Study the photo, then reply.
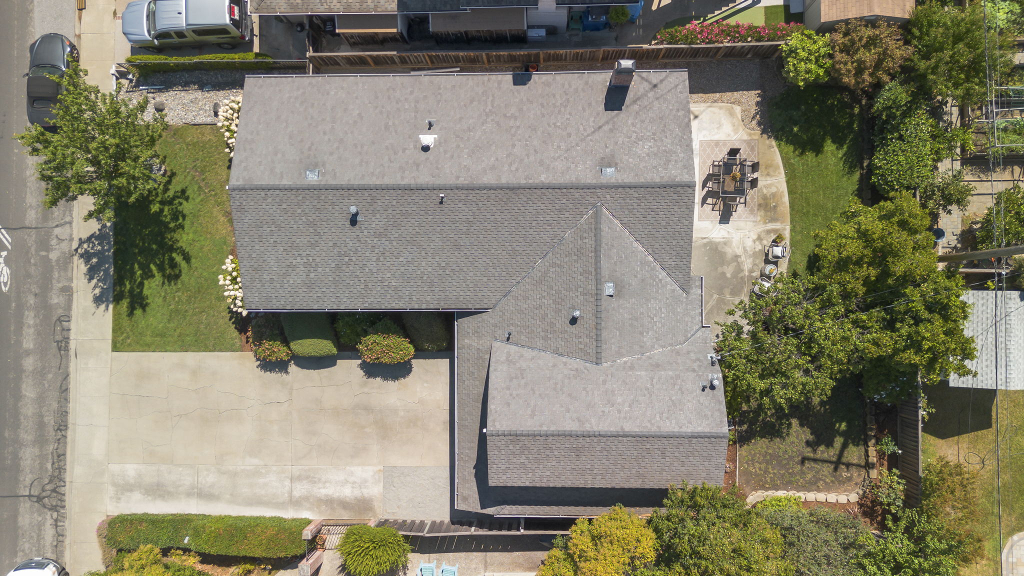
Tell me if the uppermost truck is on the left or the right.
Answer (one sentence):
The uppermost truck sits on the left side.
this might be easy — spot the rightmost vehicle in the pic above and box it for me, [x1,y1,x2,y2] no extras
[120,0,257,54]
